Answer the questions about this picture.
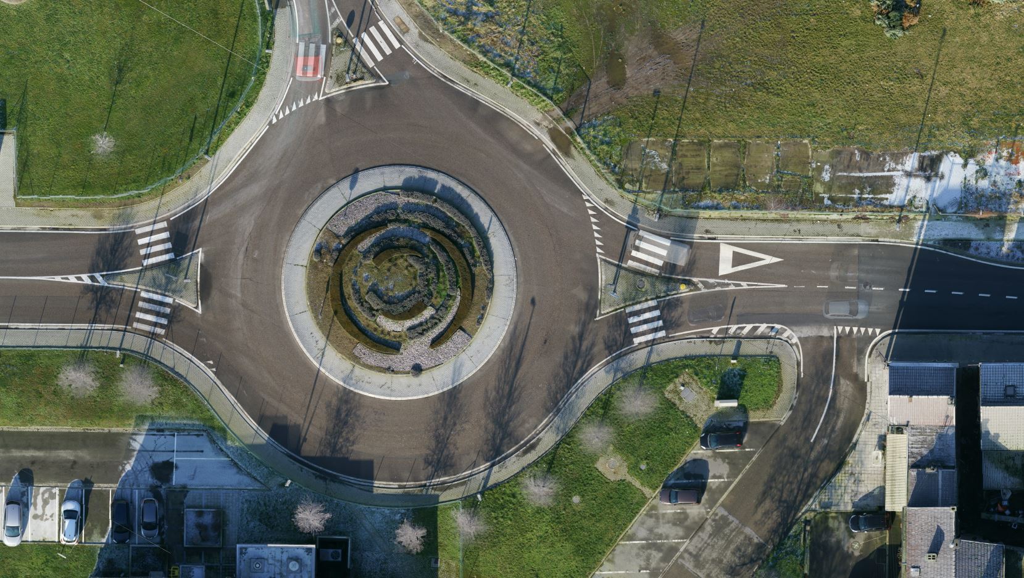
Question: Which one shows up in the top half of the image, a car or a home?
car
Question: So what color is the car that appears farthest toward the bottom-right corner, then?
black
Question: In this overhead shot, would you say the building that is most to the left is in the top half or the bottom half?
bottom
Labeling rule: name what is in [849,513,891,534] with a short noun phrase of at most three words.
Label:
car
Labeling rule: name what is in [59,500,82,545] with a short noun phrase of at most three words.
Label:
car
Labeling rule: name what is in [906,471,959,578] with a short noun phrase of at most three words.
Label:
house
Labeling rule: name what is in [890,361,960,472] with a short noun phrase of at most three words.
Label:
house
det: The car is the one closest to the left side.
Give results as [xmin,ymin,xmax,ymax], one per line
[0,500,23,546]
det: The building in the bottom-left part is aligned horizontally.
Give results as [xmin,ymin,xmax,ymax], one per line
[235,545,316,578]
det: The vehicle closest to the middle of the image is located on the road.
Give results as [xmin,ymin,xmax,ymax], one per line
[657,241,690,266]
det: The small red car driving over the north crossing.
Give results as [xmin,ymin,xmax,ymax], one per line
[298,50,320,80]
